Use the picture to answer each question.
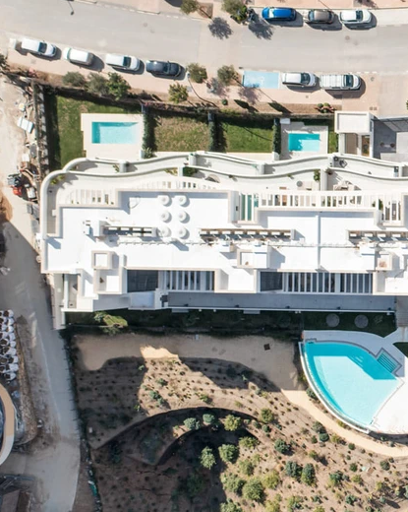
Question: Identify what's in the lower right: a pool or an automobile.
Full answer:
There is a pool in the lower right.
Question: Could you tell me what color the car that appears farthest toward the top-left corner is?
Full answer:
The color of the car that appears farthest toward the top-left corner is white.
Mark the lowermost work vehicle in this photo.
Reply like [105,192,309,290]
[3,167,27,197]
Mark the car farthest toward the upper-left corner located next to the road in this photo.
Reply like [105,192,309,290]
[18,38,58,58]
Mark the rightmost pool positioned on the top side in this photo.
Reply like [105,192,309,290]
[281,126,328,159]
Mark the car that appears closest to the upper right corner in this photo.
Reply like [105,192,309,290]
[340,8,372,24]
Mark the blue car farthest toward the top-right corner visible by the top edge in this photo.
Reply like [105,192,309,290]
[263,5,297,23]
